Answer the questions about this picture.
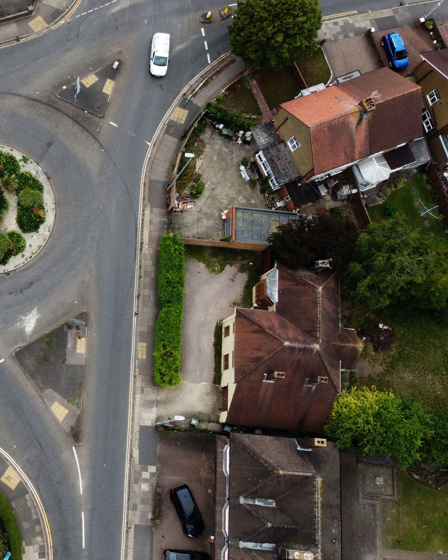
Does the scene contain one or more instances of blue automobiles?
Yes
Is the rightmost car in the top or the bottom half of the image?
top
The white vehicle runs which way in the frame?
vertically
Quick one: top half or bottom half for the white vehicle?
top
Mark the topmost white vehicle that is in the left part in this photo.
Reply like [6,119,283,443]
[149,33,171,77]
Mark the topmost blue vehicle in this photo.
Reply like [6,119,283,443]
[382,33,409,70]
